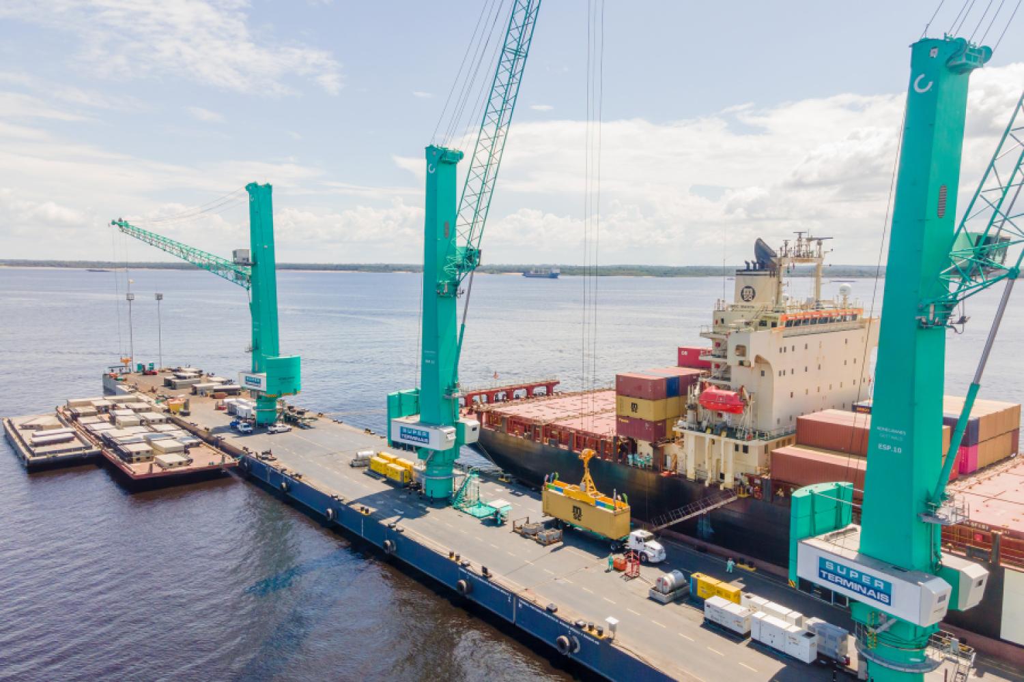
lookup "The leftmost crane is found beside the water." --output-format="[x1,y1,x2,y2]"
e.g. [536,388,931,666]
[107,183,310,423]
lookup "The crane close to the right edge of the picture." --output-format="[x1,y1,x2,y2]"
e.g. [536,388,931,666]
[779,0,1024,682]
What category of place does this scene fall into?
port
